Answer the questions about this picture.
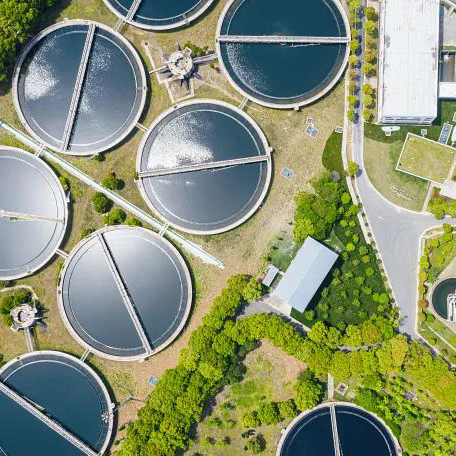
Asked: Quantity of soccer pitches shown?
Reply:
zero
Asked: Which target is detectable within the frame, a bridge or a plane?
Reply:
bridge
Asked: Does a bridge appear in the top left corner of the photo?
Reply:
Yes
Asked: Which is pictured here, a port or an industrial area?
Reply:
industrial area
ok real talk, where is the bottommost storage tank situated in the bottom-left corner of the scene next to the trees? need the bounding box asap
[0,351,116,456]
